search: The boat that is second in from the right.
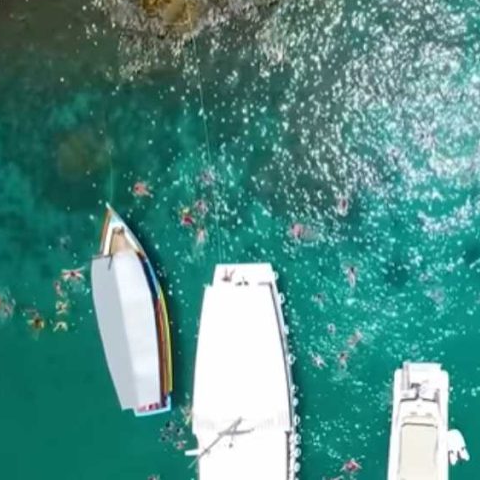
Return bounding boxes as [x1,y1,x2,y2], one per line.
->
[387,358,450,480]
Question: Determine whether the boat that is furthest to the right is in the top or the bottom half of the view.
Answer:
bottom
